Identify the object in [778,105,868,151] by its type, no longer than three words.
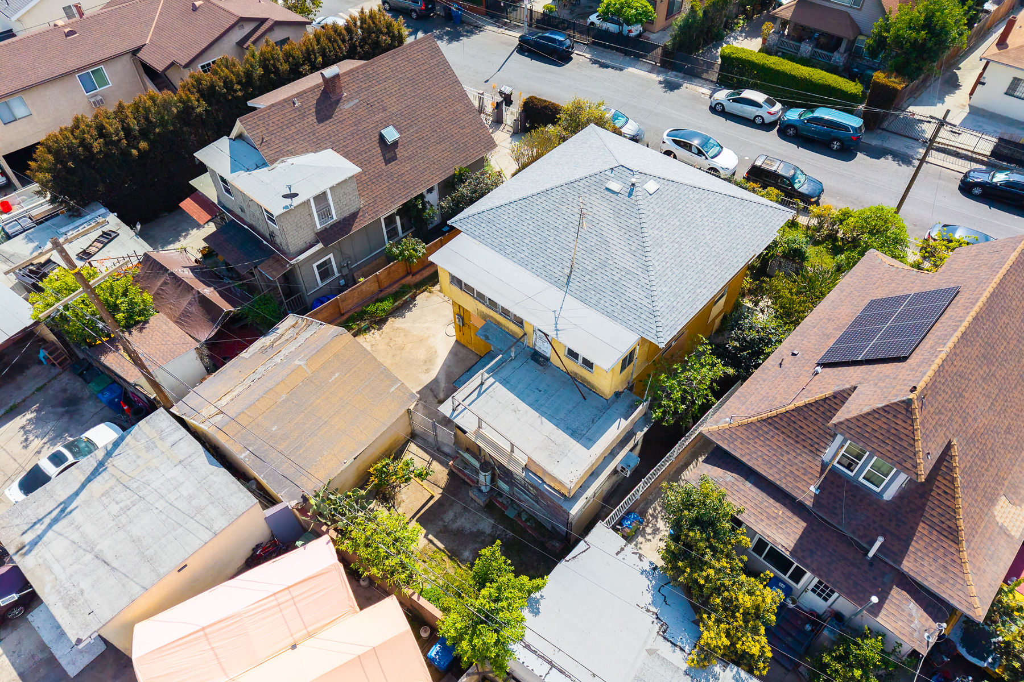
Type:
car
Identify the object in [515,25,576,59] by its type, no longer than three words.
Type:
car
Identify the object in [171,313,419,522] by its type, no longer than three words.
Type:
building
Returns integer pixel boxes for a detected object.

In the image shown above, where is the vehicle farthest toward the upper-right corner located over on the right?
[962,167,1024,207]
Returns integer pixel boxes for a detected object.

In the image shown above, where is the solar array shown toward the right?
[814,293,949,369]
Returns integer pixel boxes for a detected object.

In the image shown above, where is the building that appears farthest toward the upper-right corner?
[964,11,1024,125]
